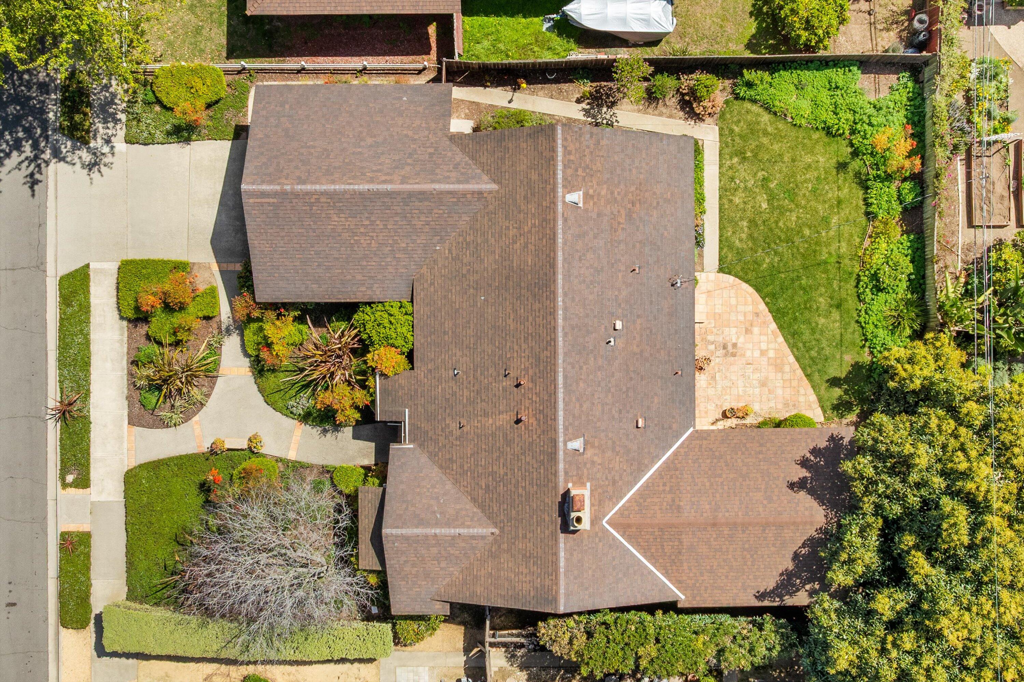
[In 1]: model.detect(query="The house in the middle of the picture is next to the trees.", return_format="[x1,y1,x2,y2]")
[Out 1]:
[241,85,874,615]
